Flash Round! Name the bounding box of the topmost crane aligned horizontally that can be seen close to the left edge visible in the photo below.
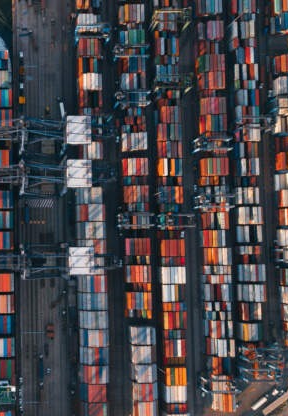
[0,115,114,165]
